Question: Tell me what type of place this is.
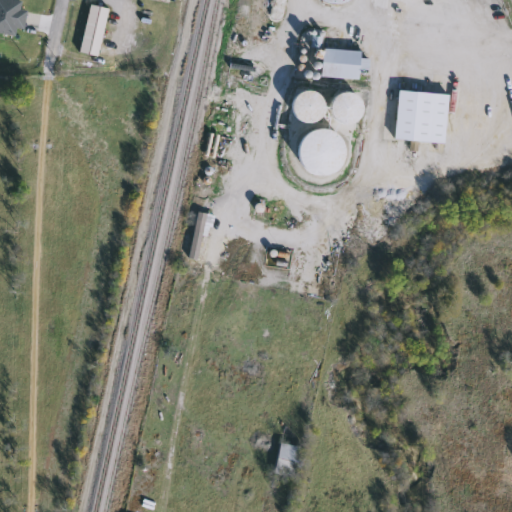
industrial area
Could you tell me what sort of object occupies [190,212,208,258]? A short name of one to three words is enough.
shed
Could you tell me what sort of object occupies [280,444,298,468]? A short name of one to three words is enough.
barn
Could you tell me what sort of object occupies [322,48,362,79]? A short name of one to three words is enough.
shed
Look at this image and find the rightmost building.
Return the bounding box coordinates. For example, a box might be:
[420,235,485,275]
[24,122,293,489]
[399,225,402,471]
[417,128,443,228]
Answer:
[396,90,451,143]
